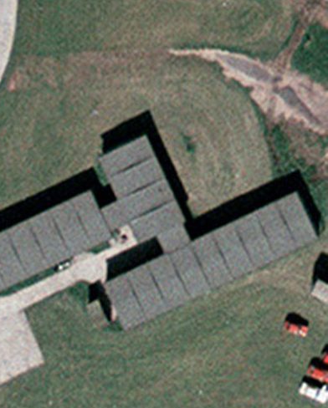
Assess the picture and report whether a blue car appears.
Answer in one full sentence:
No, the scene contains no blue car.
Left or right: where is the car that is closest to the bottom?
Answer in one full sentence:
The car that is closest to the bottom sits on the right side.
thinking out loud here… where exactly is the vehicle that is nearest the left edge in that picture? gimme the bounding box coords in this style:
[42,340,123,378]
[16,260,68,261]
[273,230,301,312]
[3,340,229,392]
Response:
[283,317,308,334]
